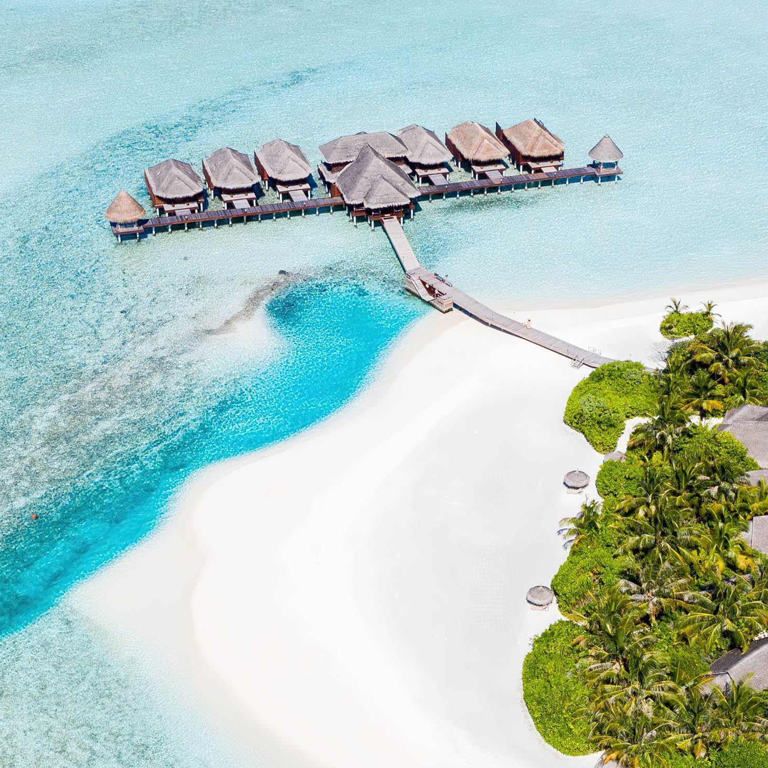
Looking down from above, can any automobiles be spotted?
No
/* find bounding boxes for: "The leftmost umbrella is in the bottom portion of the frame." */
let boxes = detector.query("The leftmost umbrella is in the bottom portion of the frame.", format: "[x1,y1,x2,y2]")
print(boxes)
[524,586,555,610]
